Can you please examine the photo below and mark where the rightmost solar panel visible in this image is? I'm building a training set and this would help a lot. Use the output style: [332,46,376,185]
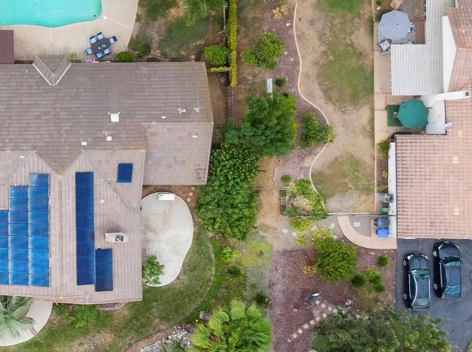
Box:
[118,164,133,184]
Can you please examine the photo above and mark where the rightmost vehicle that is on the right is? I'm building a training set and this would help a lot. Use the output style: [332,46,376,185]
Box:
[430,240,463,299]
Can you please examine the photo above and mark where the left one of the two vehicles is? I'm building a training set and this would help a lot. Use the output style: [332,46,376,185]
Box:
[400,251,432,310]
